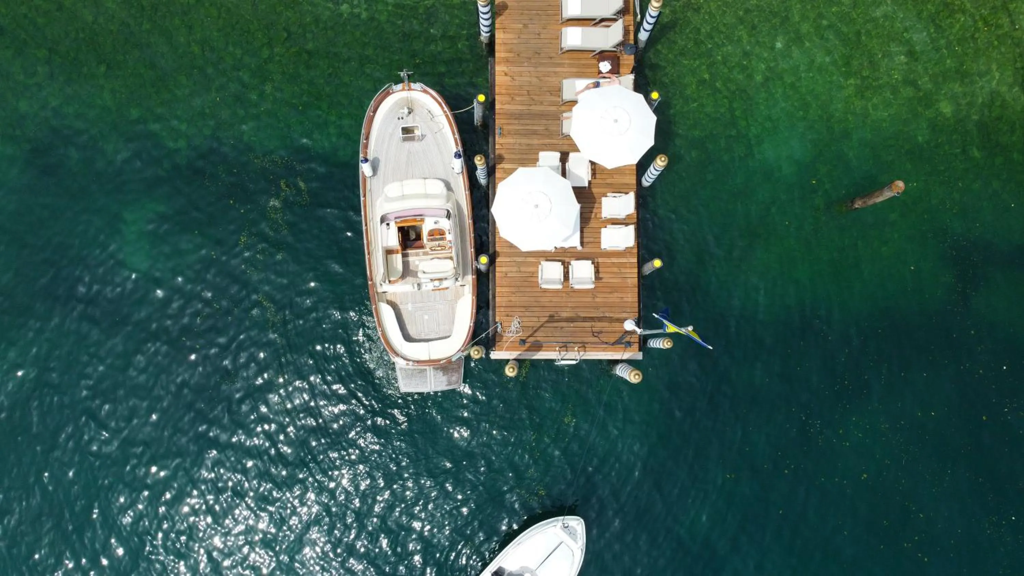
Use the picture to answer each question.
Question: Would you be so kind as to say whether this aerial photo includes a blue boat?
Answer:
No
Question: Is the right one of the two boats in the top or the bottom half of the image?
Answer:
bottom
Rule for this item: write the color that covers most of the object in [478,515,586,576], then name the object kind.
white boat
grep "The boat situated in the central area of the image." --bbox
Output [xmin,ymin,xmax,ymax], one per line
[360,68,478,392]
